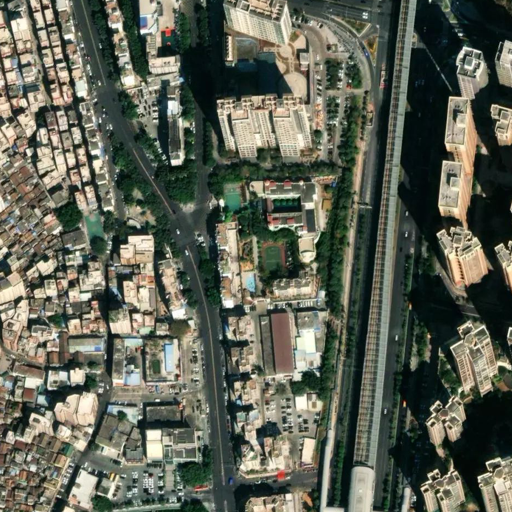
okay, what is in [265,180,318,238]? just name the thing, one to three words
building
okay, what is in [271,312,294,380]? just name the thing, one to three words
house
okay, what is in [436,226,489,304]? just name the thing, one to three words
building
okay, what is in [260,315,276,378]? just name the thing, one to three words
house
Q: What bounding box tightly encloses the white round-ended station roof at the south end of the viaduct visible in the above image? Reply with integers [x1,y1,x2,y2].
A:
[346,466,376,512]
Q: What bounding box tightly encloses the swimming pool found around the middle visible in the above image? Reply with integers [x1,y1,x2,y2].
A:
[241,272,258,294]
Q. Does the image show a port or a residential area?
residential area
